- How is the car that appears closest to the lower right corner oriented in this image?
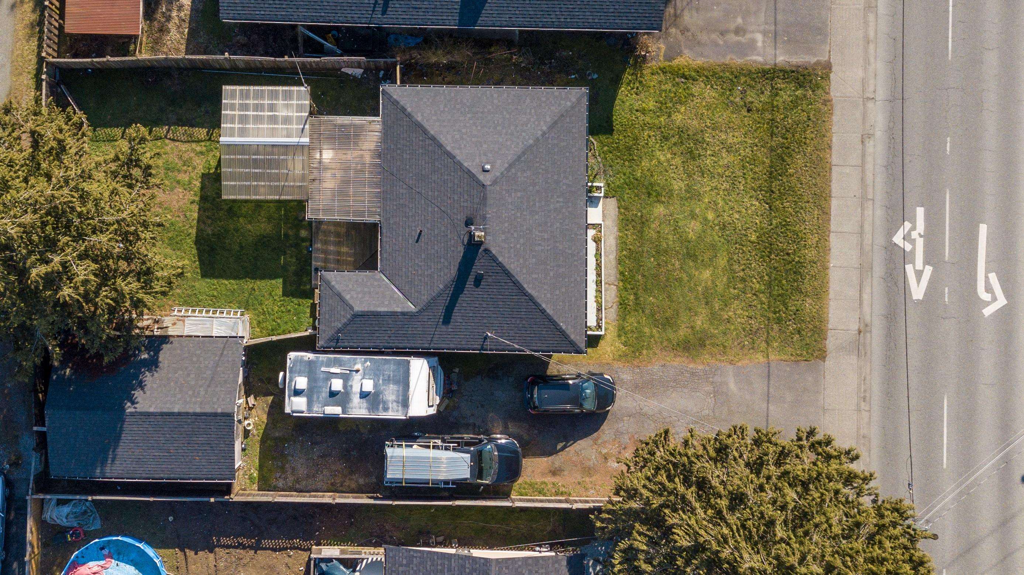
from side to side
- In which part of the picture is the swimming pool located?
bottom left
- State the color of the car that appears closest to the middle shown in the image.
black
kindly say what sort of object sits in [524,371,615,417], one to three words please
car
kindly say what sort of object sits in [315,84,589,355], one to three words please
house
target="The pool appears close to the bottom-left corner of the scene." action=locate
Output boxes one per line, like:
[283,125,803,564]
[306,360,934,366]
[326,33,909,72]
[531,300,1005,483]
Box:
[60,526,173,575]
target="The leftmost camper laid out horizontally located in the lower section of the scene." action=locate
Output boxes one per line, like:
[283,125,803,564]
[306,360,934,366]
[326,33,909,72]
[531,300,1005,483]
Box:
[279,351,446,420]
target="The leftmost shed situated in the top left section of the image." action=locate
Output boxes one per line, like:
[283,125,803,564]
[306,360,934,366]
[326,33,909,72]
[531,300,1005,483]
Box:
[65,0,152,46]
